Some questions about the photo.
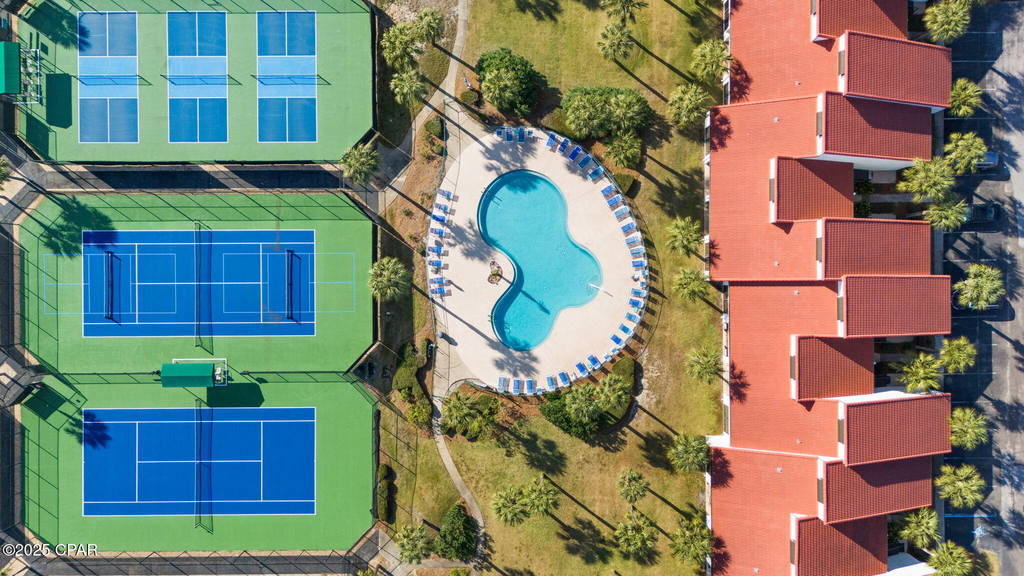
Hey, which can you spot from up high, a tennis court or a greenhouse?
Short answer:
tennis court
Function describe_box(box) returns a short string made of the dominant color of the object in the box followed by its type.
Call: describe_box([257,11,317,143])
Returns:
blue sports court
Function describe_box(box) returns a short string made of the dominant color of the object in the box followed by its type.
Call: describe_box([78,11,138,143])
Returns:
blue sports court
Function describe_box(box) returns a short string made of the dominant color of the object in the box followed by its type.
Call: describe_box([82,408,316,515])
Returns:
blue tennis court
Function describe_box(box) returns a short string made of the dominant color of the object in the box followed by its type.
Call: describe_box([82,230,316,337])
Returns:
blue tennis court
